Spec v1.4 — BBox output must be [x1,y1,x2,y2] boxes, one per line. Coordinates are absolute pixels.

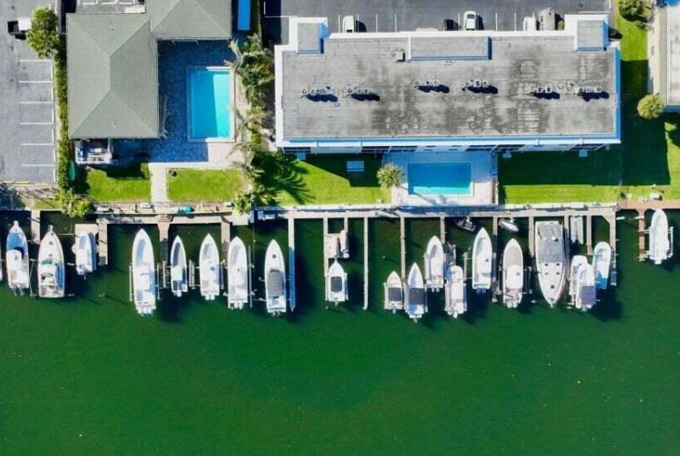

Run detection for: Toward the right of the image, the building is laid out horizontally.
[275,14,620,153]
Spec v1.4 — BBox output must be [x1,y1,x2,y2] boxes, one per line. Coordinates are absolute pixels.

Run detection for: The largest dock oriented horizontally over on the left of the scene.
[98,213,252,226]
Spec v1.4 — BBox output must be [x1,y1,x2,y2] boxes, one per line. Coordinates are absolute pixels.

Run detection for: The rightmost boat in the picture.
[648,209,671,267]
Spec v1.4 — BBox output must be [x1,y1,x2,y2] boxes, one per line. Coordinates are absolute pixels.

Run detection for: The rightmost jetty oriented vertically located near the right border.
[634,209,648,261]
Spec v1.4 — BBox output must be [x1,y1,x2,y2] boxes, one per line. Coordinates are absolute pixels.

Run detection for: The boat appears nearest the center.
[328,253,344,306]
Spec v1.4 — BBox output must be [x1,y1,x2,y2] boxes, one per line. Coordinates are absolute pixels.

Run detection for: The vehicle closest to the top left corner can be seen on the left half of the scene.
[7,18,34,38]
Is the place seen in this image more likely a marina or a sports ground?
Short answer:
marina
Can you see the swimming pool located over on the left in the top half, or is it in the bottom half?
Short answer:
top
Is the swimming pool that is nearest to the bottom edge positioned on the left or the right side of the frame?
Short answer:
right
